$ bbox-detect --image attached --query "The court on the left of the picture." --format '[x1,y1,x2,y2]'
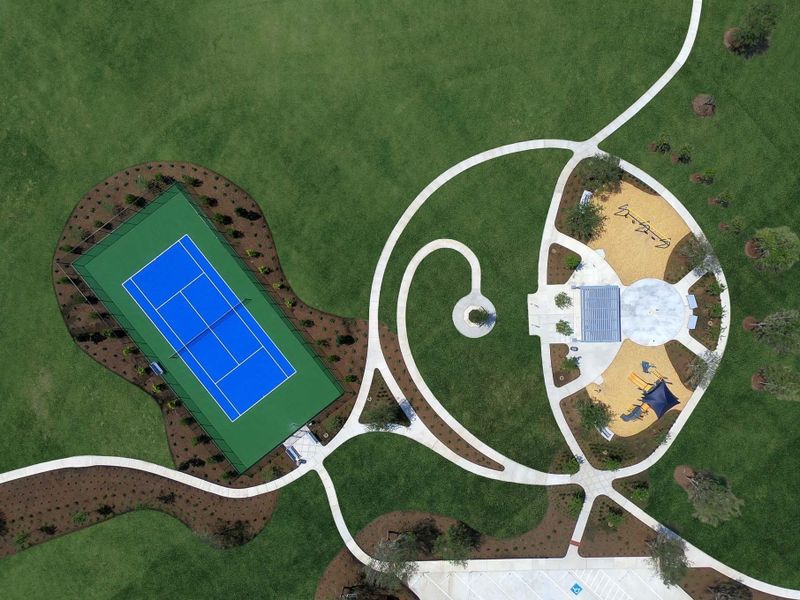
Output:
[73,181,345,475]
